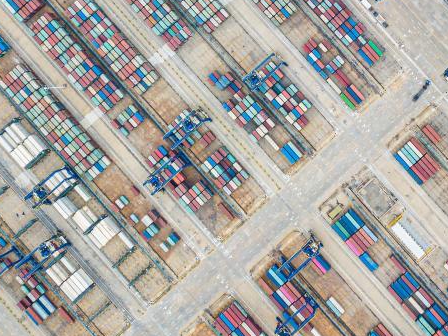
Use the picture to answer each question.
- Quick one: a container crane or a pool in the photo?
container crane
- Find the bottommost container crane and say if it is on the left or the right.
right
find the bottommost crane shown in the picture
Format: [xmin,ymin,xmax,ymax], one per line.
[269,288,318,336]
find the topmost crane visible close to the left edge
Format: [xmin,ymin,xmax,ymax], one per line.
[19,163,82,217]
